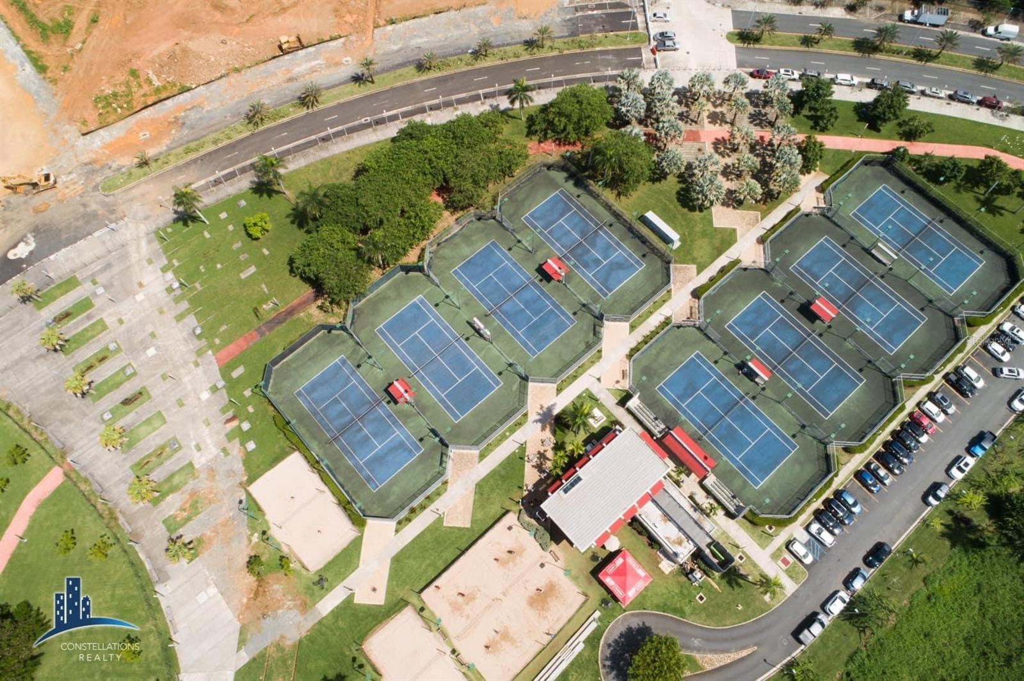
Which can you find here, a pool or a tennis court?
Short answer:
tennis court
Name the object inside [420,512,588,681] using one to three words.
sports court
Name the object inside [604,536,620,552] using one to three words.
umbrella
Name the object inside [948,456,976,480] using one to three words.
car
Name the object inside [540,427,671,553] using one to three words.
building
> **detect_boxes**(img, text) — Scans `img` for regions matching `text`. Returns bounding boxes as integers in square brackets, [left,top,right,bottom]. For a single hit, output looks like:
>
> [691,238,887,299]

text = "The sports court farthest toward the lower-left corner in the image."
[248,452,360,572]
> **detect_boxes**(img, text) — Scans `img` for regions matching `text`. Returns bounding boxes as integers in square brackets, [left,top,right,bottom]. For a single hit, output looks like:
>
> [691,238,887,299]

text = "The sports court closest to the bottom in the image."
[362,606,471,681]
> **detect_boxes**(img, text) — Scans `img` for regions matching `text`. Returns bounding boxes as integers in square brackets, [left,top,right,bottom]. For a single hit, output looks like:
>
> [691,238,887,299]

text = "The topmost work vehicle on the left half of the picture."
[278,34,303,53]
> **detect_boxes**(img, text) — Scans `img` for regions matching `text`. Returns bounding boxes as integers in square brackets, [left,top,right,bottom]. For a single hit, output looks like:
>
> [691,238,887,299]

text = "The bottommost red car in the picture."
[908,409,936,435]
